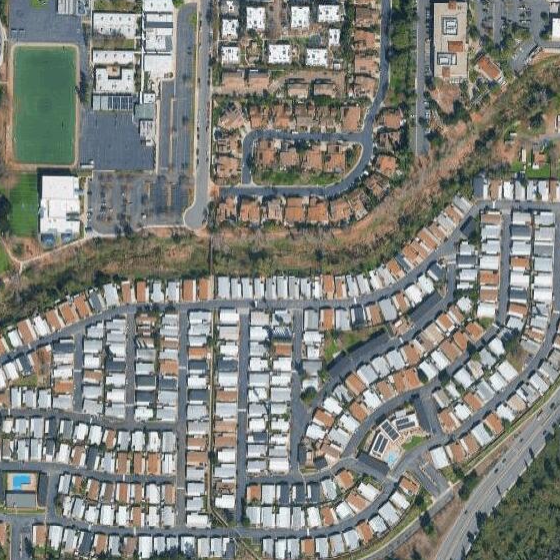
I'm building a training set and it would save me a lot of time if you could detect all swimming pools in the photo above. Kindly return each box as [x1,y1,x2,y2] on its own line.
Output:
[13,474,31,490]
[387,450,398,463]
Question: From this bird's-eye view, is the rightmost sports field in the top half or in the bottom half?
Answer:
top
